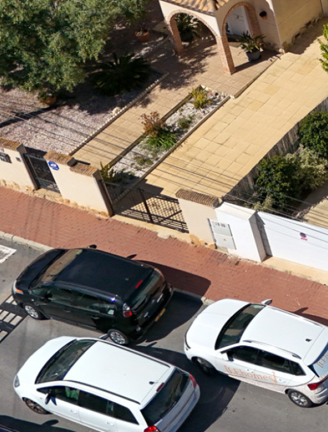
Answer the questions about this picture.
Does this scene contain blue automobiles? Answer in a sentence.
No, there's no blue automobile here.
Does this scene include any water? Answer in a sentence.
No, the scene doesn't show any water.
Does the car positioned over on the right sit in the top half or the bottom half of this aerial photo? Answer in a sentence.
It is in the bottom half that the car positioned over on the right appears.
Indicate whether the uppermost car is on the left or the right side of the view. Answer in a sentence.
The uppermost car is on the left side of the image.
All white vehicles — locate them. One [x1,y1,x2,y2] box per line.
[13,333,205,432]
[183,297,328,412]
